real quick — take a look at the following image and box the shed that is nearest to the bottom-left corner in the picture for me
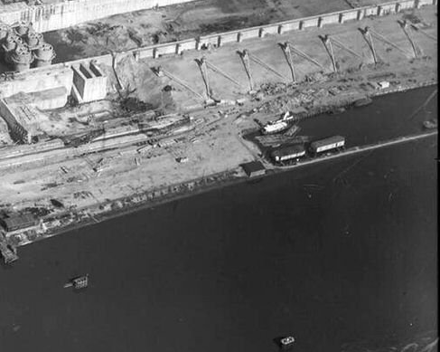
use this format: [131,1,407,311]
[0,205,42,235]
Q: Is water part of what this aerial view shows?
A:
Yes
